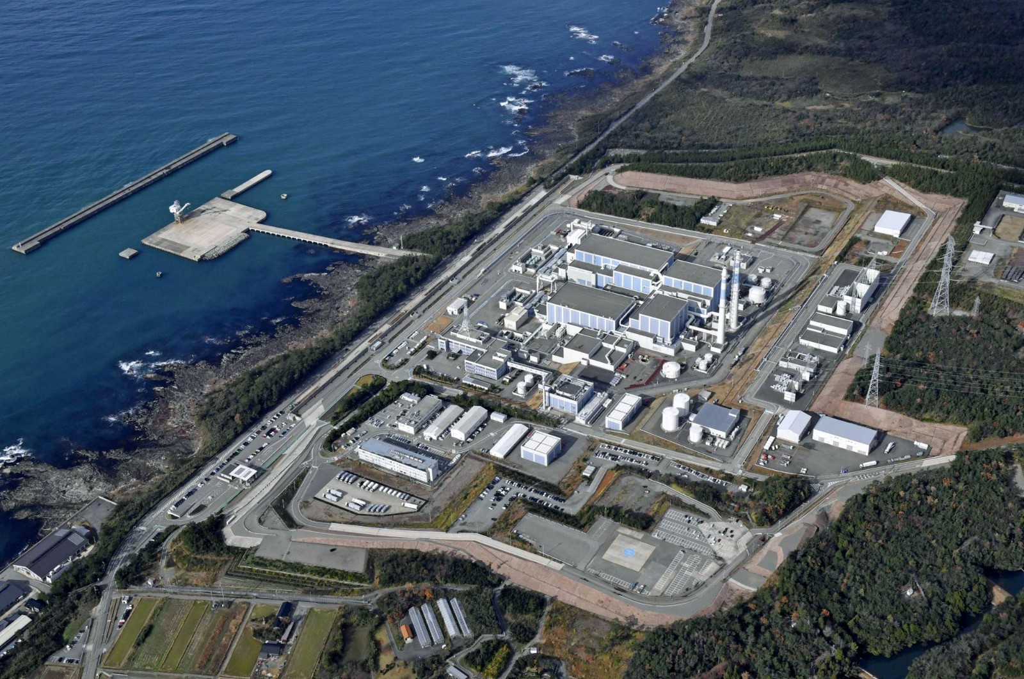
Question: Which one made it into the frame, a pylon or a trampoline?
pylon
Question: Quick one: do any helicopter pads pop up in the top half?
No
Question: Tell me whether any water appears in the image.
Yes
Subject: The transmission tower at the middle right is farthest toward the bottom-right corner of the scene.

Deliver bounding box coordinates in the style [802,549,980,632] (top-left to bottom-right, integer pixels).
[865,354,879,408]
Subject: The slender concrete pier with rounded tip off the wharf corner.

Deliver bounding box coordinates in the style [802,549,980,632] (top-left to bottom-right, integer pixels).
[235,170,272,200]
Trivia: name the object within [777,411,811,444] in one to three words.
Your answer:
building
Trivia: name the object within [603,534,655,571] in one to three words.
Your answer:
helipad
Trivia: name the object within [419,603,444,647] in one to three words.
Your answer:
greenhouse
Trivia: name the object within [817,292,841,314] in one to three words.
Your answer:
building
